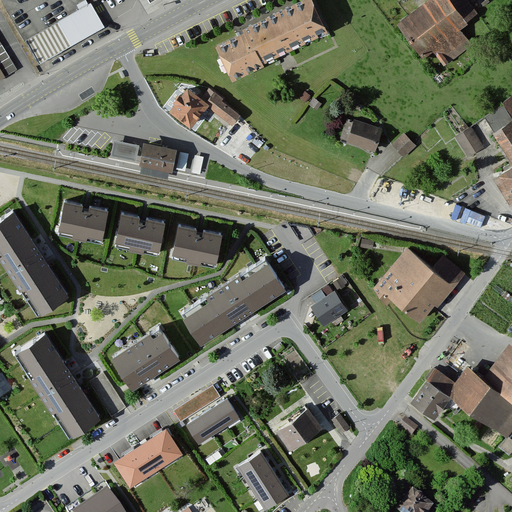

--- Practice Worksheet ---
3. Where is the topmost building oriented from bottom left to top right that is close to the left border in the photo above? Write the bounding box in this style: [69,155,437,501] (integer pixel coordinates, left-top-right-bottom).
[26,0,104,64]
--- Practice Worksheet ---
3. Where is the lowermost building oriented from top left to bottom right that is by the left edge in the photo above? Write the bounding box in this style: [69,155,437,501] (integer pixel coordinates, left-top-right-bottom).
[12,331,101,442]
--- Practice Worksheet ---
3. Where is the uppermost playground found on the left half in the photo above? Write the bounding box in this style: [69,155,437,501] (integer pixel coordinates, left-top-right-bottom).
[78,292,152,349]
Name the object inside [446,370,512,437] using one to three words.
barn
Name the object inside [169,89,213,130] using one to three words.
house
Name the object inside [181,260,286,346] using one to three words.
building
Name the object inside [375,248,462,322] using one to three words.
barn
